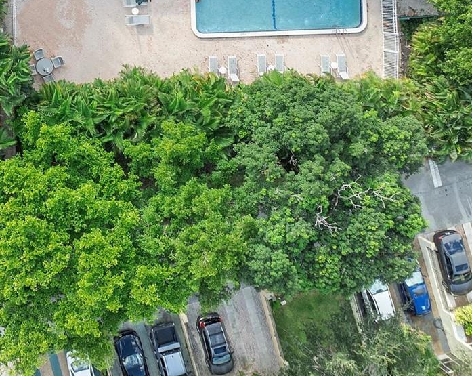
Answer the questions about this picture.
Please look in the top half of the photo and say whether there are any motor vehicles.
No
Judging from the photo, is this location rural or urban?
rural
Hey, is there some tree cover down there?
Yes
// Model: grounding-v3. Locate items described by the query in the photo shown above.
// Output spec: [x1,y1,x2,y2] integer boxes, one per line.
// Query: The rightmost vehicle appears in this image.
[429,225,472,294]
